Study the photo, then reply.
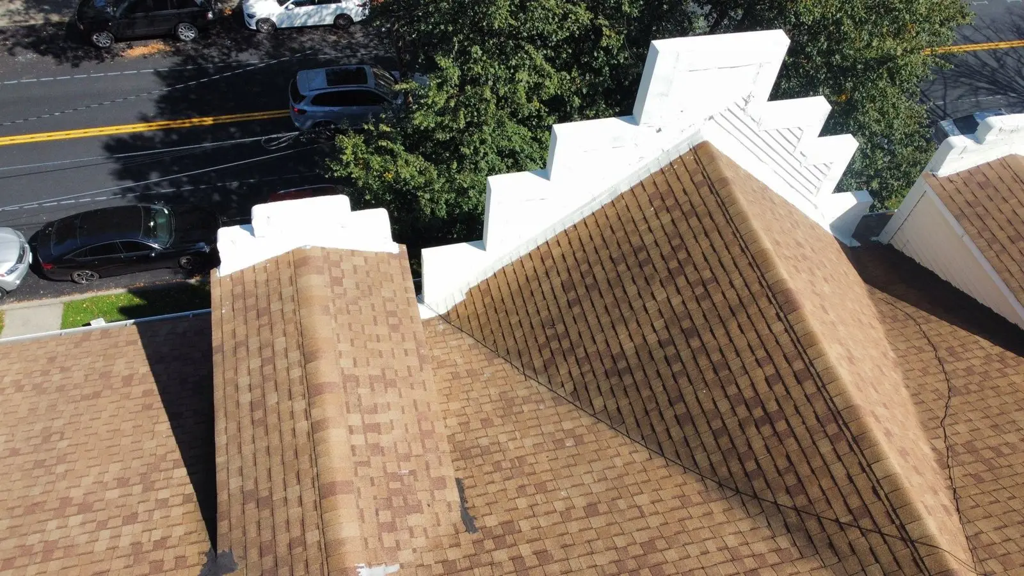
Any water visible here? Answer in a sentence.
No, there's no water in this view.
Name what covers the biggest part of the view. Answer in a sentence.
For the most part, this view shows buildings.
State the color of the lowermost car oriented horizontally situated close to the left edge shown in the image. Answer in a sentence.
In this view, the lowermost car oriented horizontally situated close to the left edge is black.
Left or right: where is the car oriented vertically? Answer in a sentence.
The car oriented vertically sits on the left side.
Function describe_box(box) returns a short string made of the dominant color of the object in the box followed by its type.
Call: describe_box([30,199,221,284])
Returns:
black car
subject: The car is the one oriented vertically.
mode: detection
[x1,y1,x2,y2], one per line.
[0,225,31,294]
